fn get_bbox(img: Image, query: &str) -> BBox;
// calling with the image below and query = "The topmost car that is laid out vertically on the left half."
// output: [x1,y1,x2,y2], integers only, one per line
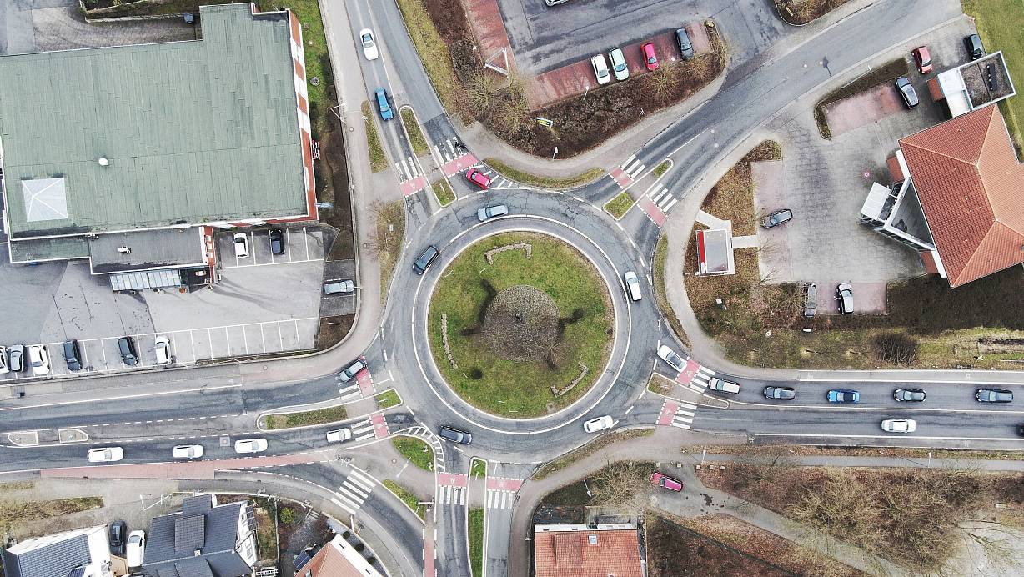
[360,27,379,62]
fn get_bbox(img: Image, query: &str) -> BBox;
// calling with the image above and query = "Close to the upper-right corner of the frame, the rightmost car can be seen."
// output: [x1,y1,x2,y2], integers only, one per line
[963,33,982,61]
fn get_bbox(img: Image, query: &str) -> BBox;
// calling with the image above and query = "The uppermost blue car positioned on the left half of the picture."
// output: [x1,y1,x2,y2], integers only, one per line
[374,87,394,121]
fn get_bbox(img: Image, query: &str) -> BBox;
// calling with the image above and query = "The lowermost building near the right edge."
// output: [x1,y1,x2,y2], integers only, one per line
[849,103,1024,288]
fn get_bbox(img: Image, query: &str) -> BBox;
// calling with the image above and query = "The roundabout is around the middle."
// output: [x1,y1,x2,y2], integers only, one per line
[370,173,674,478]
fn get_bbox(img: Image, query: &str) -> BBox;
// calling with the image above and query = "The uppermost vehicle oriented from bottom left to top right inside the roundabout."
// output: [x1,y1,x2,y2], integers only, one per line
[412,244,440,276]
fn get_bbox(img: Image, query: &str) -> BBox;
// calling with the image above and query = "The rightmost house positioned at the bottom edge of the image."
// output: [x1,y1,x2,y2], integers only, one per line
[536,507,641,577]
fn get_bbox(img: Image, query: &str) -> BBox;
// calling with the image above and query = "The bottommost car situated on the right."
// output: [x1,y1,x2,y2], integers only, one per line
[650,470,683,492]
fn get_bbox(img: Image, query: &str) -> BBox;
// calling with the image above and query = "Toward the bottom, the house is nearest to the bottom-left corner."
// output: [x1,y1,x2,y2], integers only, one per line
[4,522,118,577]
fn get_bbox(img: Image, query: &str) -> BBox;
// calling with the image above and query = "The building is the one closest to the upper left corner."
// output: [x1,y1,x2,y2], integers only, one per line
[0,1,331,291]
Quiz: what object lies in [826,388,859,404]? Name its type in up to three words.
car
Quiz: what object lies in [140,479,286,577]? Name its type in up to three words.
house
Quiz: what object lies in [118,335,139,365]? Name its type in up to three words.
car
